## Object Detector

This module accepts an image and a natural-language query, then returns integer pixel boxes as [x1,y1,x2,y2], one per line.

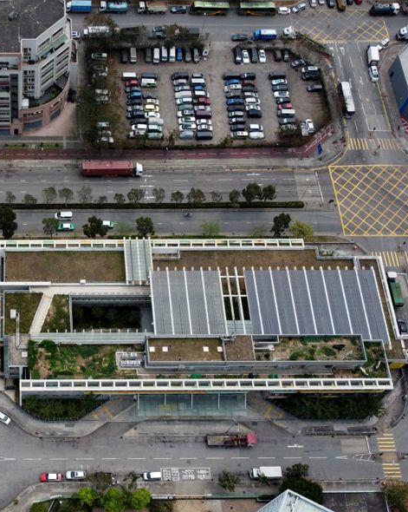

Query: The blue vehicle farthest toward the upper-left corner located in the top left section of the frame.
[66,0,91,13]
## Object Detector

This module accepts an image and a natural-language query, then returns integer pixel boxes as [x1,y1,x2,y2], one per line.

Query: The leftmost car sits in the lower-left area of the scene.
[0,411,12,425]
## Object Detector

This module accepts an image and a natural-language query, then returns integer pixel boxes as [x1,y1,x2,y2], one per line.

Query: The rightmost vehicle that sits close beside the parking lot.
[336,79,360,116]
